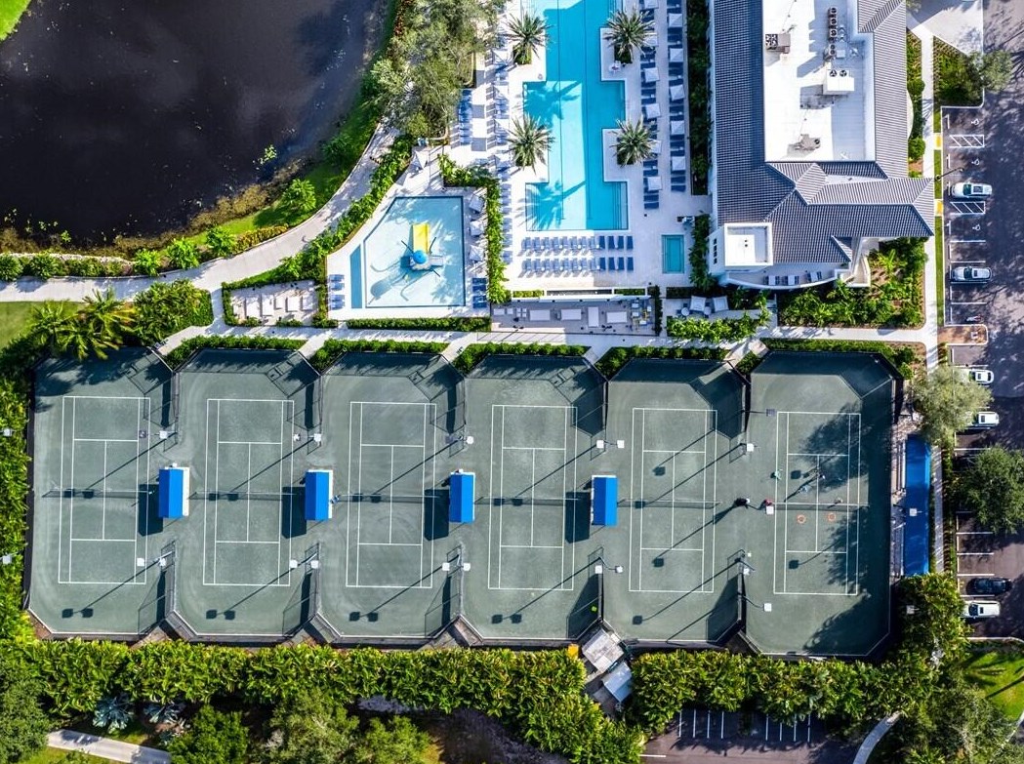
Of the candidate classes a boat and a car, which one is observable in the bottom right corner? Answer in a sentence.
It is a car that can be seen in the bottom right corner.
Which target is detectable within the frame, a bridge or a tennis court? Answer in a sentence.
I can see a tennis court in this picture.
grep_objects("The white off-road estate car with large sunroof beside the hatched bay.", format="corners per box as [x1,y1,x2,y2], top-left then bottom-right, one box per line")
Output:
[948,181,992,200]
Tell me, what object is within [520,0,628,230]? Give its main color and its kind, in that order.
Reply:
blue swimming pool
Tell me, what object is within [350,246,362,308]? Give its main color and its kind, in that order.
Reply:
blue swimming pool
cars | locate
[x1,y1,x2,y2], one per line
[960,412,1001,429]
[949,265,991,283]
[954,367,993,383]
[965,577,1011,595]
[963,599,1000,619]
[948,181,992,200]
